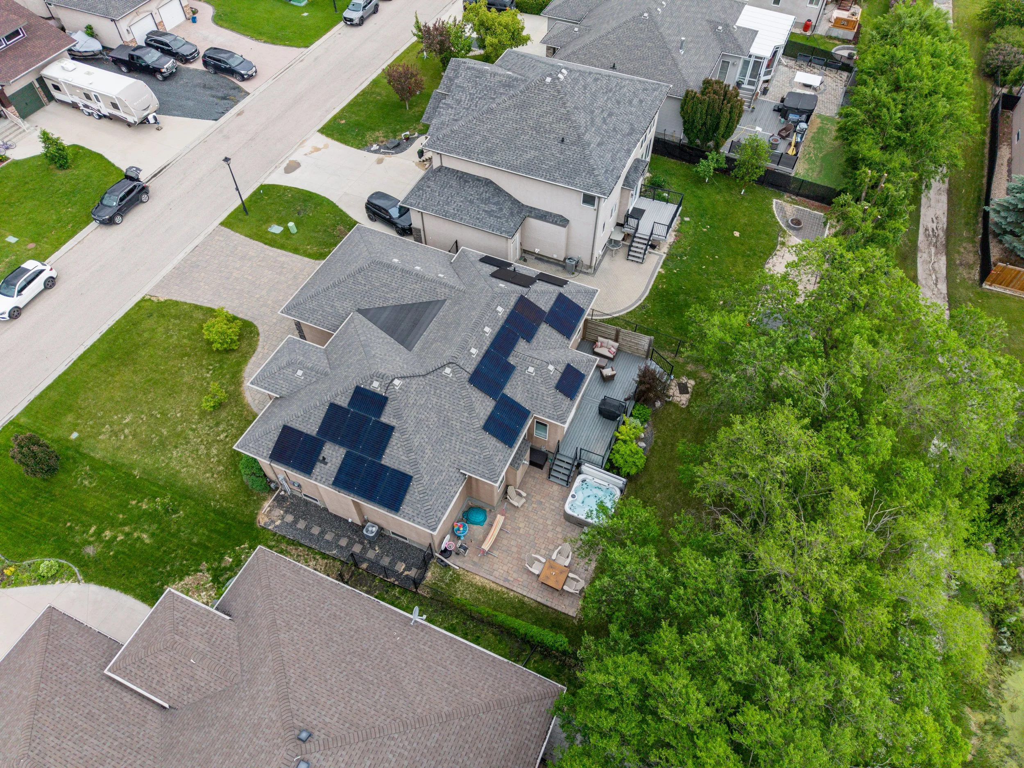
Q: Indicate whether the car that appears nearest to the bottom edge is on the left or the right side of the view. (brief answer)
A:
left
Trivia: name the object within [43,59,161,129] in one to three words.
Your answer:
trailer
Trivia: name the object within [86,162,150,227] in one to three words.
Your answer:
car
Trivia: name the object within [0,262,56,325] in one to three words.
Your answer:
car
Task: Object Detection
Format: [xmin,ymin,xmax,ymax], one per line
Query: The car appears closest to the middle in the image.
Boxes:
[360,190,416,237]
